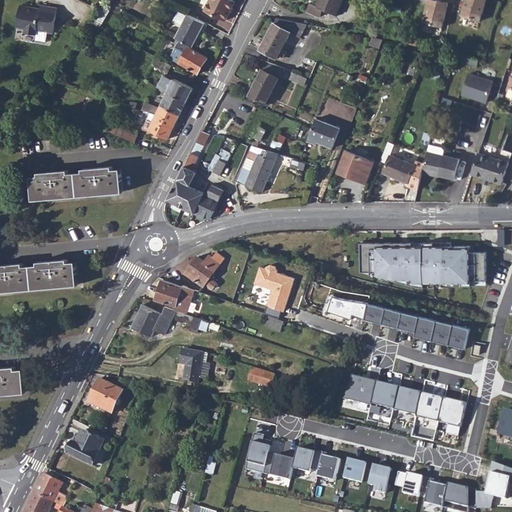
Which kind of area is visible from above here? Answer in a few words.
residential area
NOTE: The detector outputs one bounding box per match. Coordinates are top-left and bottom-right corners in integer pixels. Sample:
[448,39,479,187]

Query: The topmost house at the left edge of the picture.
[15,6,57,46]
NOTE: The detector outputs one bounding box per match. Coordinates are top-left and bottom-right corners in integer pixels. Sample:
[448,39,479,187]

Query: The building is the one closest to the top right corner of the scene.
[459,0,488,30]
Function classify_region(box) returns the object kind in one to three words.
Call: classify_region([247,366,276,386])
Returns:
barn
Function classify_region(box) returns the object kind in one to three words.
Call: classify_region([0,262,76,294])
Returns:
building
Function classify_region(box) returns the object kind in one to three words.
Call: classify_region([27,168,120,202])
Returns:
building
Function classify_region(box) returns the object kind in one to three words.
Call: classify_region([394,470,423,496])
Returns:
house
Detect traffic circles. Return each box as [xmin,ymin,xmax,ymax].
[126,219,179,268]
